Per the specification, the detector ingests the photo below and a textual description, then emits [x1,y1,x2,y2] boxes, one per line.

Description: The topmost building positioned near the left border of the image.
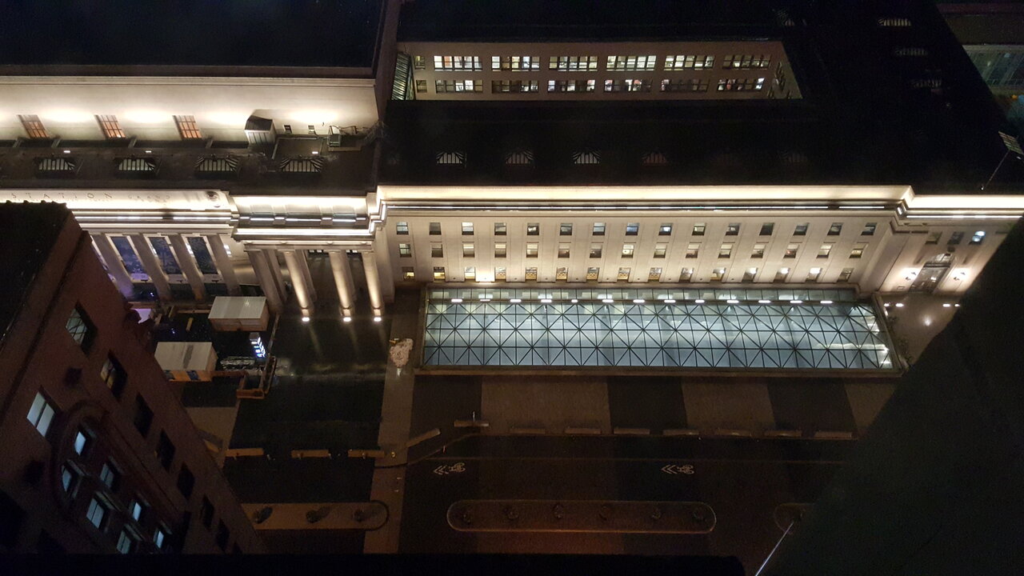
[0,0,400,315]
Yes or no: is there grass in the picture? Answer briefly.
No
